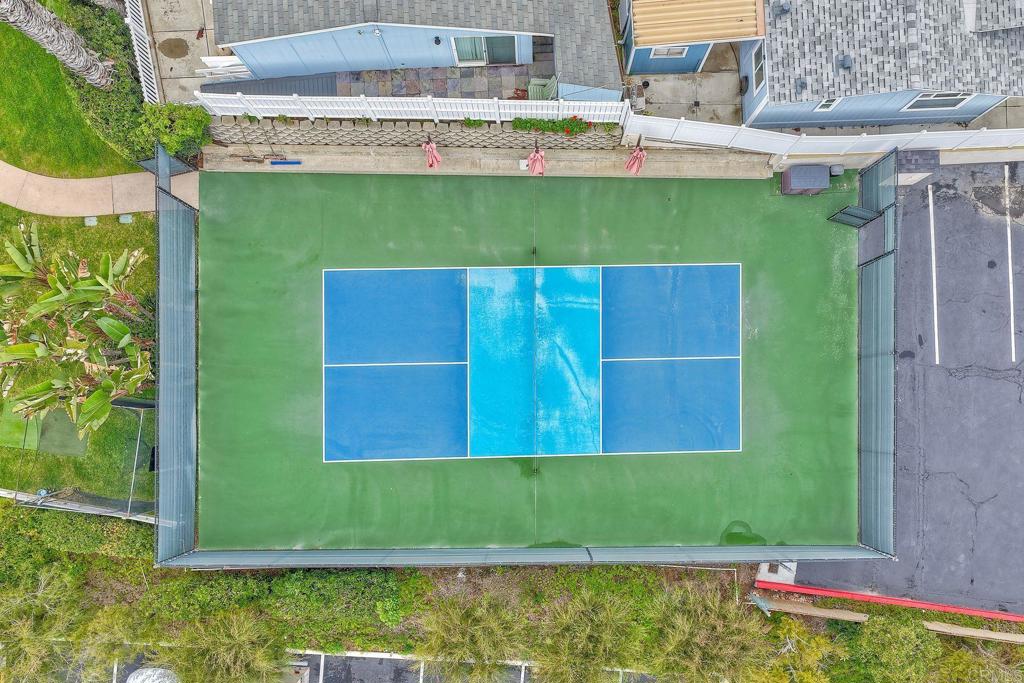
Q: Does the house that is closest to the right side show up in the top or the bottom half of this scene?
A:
top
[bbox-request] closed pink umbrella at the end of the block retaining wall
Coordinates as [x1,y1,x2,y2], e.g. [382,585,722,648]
[620,132,645,171]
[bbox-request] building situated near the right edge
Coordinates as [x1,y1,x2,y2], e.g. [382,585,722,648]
[747,0,1024,126]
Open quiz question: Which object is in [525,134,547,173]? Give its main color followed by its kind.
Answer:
pink umbrella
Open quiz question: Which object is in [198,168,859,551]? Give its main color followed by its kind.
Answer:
green sports court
